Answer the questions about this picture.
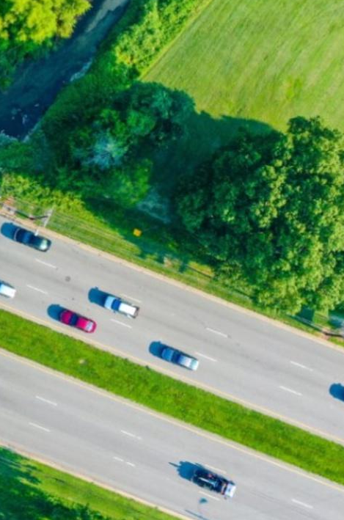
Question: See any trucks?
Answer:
Yes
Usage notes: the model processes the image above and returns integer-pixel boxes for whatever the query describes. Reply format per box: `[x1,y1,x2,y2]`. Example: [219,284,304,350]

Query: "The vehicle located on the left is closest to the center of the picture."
[102,294,141,320]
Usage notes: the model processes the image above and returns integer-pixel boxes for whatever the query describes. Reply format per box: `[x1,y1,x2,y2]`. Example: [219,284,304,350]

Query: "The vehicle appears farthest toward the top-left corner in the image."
[10,226,50,251]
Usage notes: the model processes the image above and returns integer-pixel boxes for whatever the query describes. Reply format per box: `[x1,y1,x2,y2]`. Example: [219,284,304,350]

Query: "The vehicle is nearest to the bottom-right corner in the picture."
[186,467,240,499]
